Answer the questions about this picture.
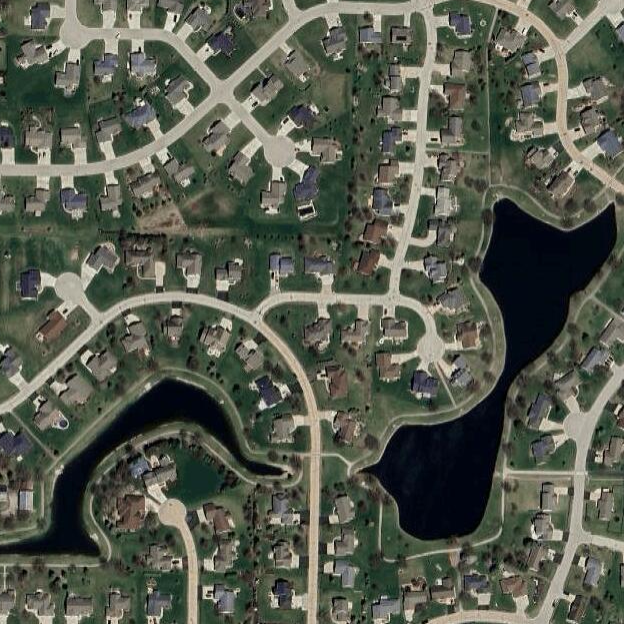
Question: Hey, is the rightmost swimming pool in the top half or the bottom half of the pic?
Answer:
top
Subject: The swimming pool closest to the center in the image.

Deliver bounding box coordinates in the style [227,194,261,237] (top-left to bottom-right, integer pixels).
[295,201,317,221]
